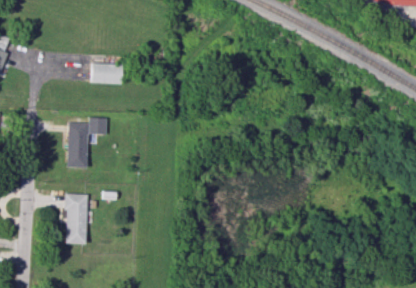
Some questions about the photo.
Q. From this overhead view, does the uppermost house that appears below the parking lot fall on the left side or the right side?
left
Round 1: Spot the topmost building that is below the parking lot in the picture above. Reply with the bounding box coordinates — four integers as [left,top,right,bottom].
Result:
[68,118,108,168]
